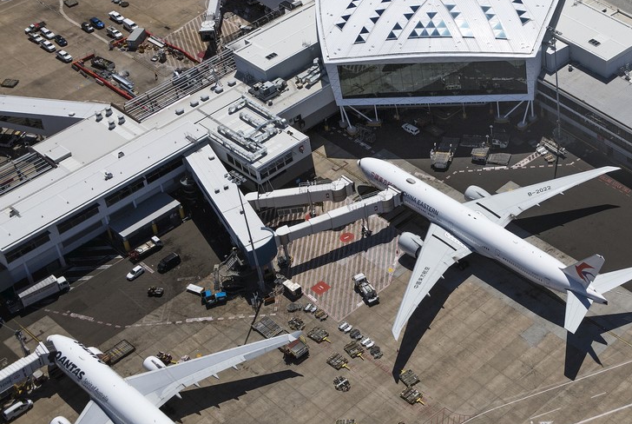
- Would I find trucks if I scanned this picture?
Yes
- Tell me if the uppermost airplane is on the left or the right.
right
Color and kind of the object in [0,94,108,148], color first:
white jet bridge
